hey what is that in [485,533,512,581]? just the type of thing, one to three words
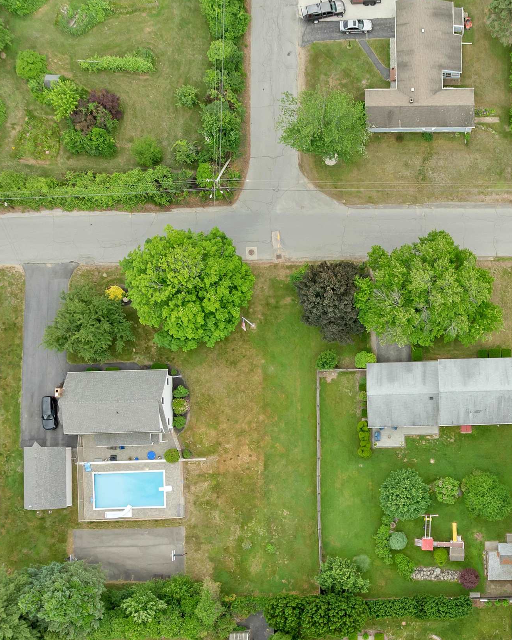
shed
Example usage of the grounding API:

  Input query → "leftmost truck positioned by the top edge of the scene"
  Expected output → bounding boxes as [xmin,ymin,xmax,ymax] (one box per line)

[298,0,345,23]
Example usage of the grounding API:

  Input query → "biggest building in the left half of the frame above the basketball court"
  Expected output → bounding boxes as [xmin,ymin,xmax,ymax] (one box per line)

[55,369,182,446]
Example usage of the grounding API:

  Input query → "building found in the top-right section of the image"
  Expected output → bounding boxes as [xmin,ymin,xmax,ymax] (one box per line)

[365,0,476,133]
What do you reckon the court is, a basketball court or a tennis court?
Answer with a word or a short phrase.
basketball court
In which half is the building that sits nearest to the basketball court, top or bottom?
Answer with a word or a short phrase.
bottom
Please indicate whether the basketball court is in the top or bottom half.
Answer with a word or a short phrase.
bottom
